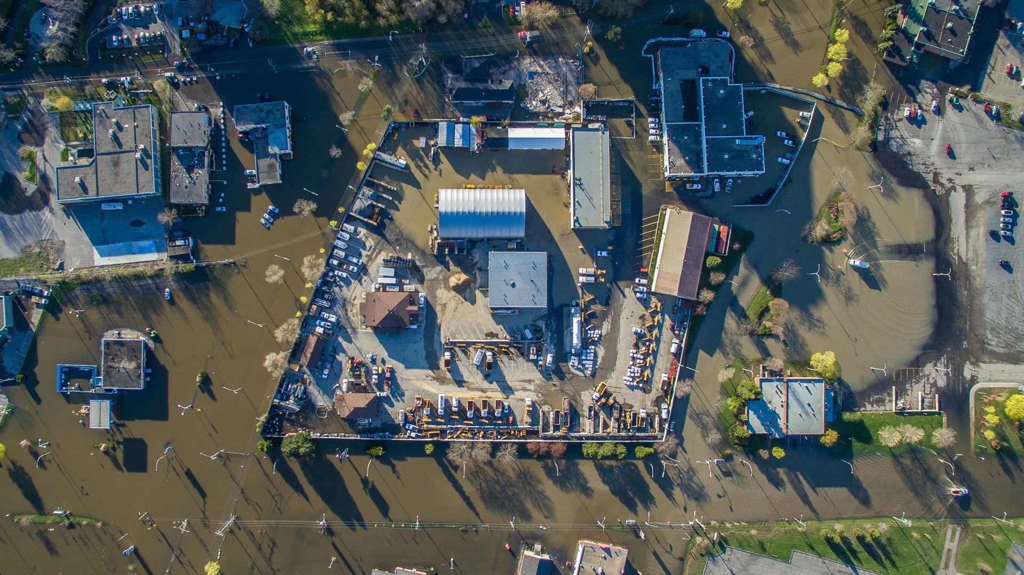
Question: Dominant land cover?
water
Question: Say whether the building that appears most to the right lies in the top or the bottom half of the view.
top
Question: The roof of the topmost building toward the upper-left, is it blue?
Yes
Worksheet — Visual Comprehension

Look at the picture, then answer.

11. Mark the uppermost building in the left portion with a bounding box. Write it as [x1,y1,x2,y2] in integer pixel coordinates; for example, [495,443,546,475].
[213,0,248,31]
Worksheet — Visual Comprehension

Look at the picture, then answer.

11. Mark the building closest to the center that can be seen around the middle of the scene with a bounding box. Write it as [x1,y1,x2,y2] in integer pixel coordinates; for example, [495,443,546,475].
[489,252,547,308]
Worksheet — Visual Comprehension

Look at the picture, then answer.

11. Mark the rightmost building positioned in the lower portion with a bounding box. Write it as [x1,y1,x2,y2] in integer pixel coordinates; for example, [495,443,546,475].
[743,376,833,436]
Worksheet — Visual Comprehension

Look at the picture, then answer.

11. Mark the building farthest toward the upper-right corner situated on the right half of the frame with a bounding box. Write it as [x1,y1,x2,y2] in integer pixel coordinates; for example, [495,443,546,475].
[885,0,980,66]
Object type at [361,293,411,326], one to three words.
house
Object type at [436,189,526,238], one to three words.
building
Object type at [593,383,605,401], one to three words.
vehicle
